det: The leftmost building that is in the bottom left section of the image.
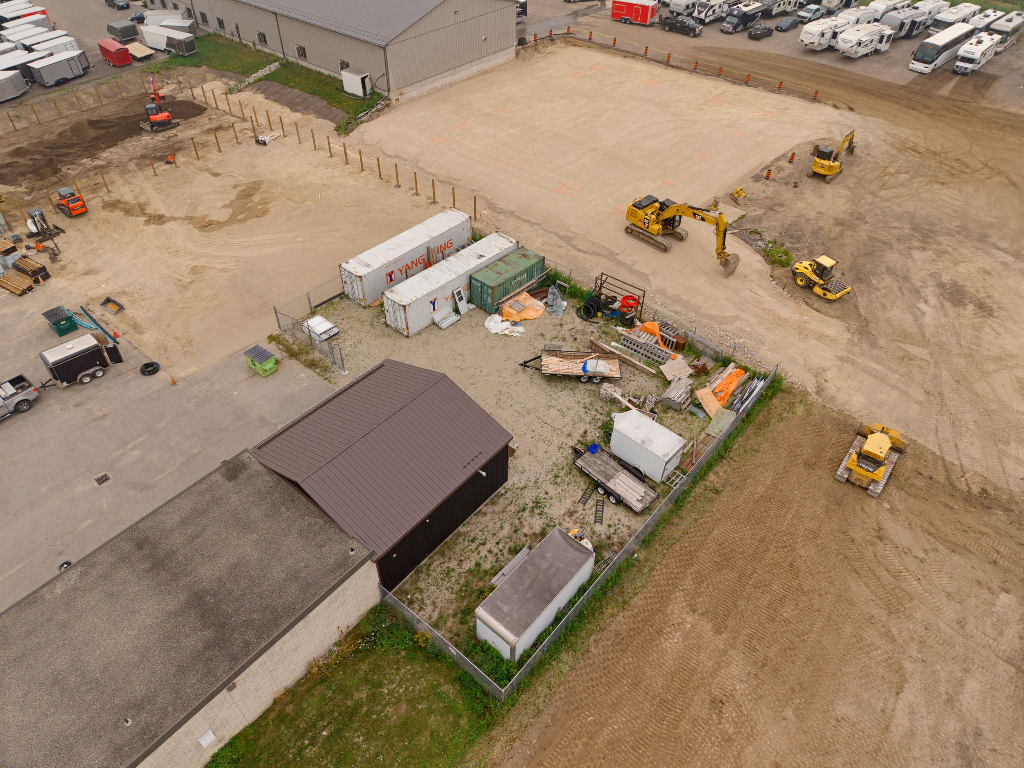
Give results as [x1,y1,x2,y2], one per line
[0,446,379,768]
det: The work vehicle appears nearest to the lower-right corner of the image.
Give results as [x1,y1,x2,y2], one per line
[836,422,910,494]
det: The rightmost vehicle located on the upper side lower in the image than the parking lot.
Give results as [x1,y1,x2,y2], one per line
[809,125,854,183]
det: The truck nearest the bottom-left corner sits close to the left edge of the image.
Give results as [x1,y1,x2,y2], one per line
[0,376,42,417]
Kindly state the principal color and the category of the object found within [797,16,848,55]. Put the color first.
white trailer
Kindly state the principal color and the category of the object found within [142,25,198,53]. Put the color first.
white trailer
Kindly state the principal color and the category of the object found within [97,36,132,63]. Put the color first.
red trailer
